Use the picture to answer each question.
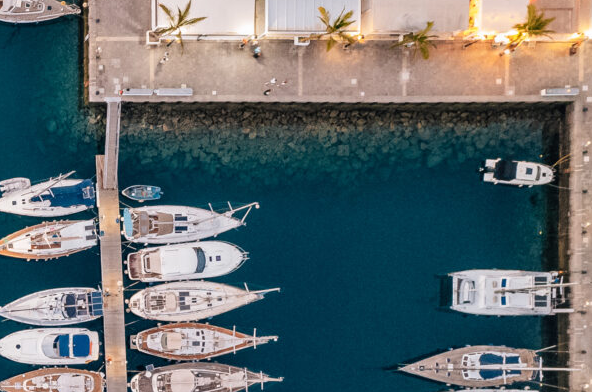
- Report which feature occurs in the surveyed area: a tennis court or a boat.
boat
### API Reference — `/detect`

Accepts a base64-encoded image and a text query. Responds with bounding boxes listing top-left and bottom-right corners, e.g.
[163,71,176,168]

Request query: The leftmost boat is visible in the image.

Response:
[0,177,31,195]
